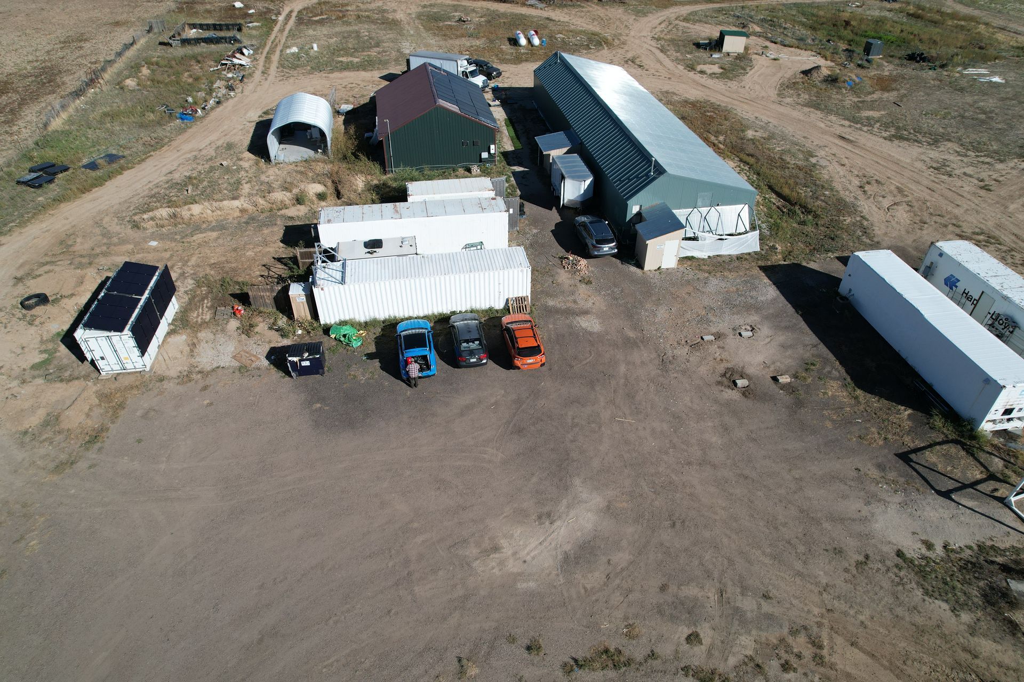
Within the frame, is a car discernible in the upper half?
Yes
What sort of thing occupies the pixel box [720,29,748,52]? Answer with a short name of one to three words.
shed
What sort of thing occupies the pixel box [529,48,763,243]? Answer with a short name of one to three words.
building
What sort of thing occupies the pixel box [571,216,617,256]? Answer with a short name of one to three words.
car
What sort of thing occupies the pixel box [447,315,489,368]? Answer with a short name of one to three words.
car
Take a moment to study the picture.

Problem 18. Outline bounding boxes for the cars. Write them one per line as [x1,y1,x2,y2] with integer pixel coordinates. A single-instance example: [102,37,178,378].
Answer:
[395,321,438,380]
[447,315,489,368]
[571,216,617,256]
[464,60,502,84]
[504,314,549,368]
